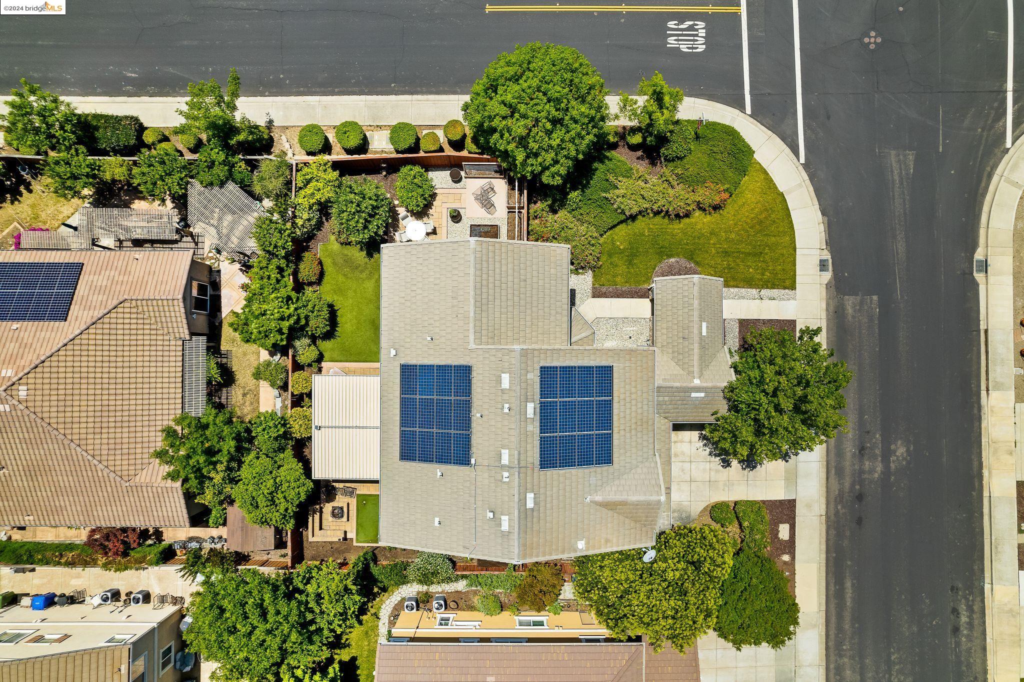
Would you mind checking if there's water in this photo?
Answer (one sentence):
No, there is no water in the image.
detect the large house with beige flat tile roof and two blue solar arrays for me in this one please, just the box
[378,238,732,564]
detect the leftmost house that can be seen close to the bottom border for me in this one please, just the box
[0,606,183,682]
